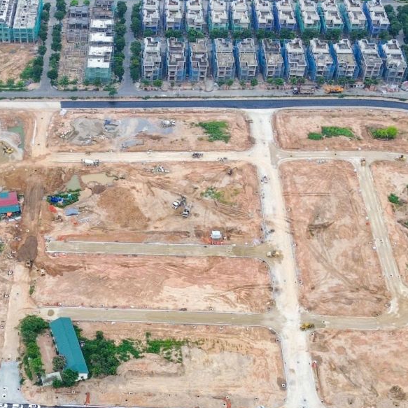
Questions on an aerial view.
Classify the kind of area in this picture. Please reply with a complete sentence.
It's a residential area.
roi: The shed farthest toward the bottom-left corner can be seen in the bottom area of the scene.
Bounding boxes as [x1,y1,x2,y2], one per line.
[53,316,90,378]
